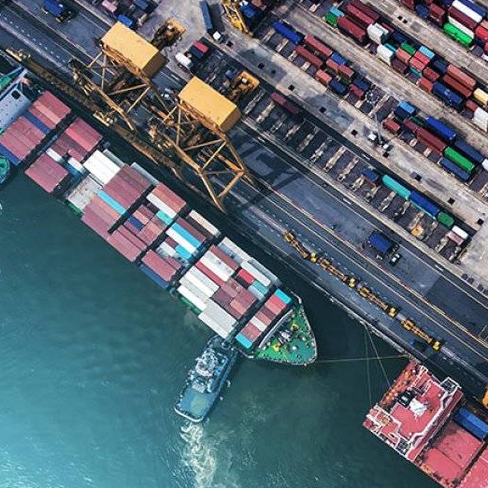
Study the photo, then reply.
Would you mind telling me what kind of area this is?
port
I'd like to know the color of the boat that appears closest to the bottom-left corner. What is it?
blue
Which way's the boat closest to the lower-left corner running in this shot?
at an angle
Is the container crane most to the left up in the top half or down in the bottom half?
top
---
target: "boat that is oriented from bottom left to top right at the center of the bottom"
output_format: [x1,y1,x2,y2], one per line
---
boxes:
[168,339,238,425]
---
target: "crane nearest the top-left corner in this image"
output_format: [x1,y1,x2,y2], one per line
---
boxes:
[21,16,184,164]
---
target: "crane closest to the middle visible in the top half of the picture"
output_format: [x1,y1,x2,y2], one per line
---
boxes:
[111,71,260,217]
